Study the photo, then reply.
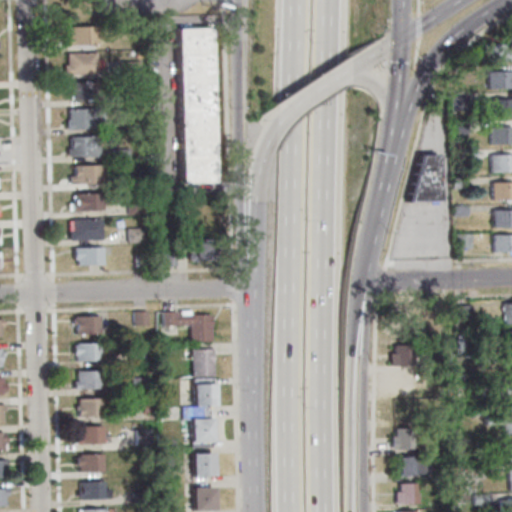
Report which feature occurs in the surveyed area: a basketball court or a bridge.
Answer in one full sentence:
Looking from above, you can make out a bridge.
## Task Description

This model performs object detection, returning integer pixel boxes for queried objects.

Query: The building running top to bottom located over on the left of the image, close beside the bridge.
[181,28,222,188]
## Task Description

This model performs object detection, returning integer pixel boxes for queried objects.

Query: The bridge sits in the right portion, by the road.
[256,36,384,151]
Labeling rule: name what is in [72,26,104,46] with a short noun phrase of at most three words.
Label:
house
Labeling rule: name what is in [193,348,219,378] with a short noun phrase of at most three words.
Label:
house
